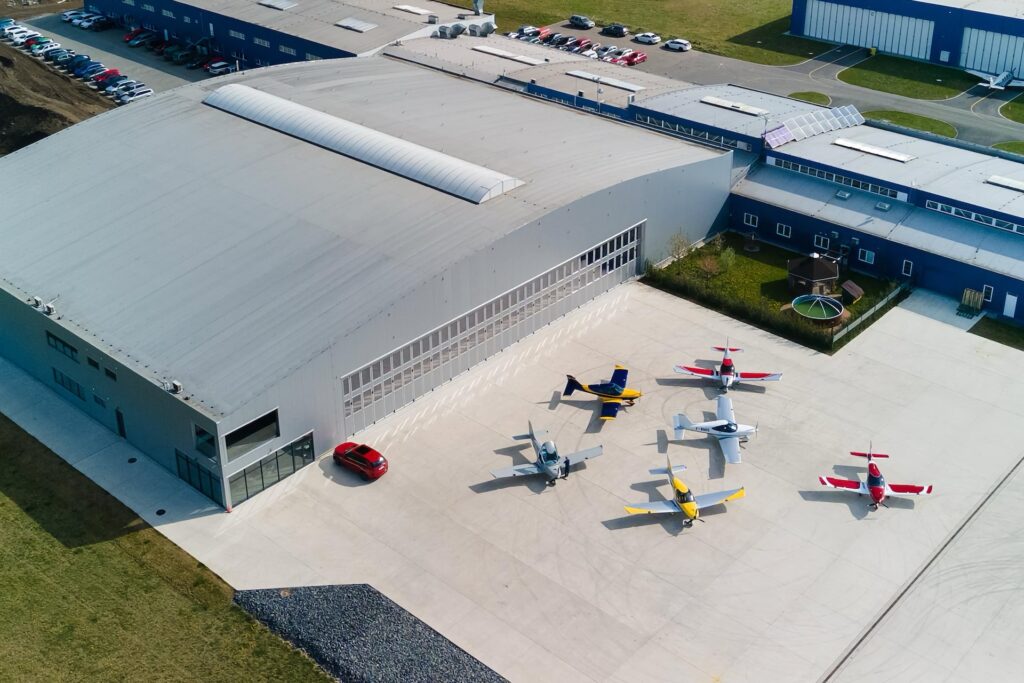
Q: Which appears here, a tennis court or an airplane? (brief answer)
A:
airplane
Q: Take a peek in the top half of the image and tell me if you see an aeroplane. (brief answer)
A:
Yes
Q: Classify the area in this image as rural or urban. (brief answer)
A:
urban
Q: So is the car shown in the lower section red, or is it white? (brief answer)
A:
red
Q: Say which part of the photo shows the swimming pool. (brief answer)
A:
right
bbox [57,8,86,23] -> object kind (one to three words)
car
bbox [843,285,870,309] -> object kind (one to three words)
shed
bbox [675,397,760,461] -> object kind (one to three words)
airplane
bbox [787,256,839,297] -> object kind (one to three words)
gazebo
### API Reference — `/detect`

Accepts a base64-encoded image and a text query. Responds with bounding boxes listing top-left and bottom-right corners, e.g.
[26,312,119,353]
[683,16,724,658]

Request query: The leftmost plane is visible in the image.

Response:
[490,418,603,485]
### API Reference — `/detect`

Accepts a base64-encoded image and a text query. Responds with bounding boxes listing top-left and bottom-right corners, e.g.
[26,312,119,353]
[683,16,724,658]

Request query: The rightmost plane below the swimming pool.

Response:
[818,436,930,508]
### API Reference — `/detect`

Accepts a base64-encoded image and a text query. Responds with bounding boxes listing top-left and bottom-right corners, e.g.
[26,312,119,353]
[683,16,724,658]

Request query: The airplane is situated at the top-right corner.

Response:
[969,68,1024,91]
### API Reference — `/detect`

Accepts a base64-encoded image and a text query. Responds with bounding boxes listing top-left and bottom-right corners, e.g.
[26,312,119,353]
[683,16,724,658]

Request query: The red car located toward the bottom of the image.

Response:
[328,446,388,485]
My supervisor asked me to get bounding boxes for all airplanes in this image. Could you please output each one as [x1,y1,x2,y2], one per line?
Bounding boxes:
[818,436,930,508]
[564,365,644,419]
[624,451,743,525]
[675,397,760,461]
[490,418,603,485]
[675,333,781,395]
[969,68,1024,91]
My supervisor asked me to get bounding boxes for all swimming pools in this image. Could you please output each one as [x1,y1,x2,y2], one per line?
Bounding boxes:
[794,295,844,328]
